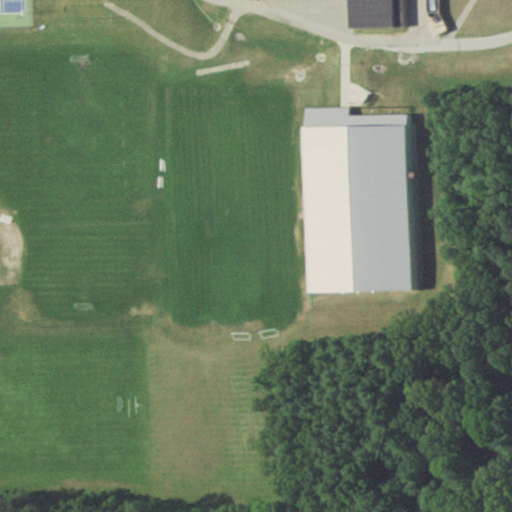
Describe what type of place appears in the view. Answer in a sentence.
It's a sports ground.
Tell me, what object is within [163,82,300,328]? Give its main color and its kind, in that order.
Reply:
green sports field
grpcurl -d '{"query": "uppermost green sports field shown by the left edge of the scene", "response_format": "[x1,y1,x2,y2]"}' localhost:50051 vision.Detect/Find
[0,42,162,318]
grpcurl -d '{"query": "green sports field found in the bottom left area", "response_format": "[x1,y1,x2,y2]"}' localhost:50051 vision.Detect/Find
[0,330,150,482]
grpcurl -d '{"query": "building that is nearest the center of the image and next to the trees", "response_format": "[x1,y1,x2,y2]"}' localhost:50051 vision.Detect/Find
[302,106,419,294]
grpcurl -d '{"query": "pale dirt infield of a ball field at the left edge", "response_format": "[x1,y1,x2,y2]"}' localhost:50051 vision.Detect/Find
[0,220,24,285]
